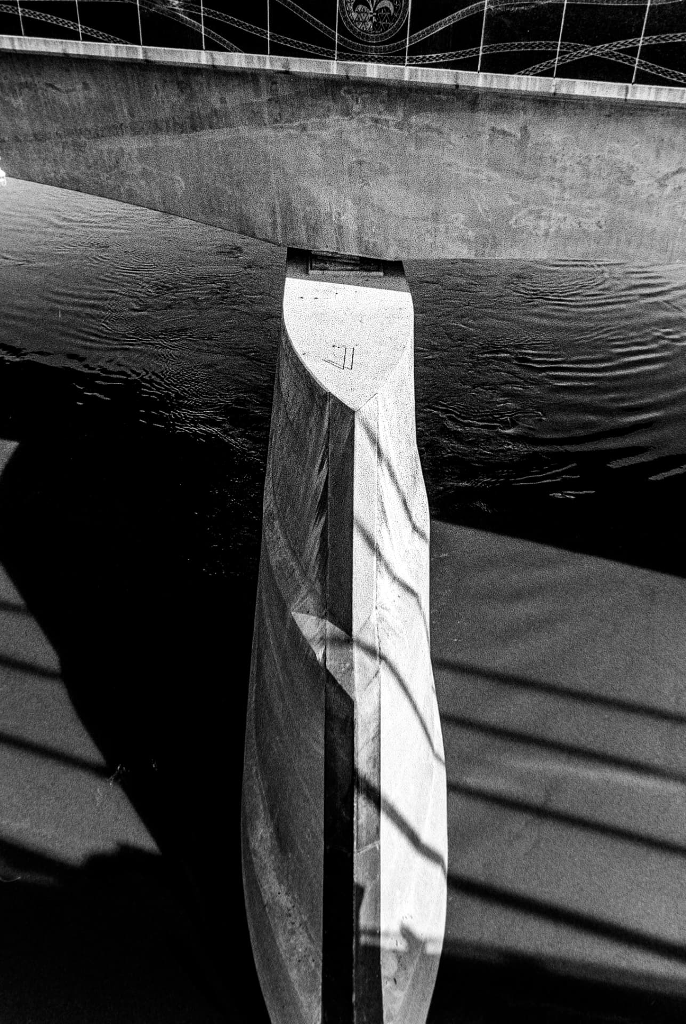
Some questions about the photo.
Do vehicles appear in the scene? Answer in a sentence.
No, the frame has no vehicle in it.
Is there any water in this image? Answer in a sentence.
Yes, there is water in the image.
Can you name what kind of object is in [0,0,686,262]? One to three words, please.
bridge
